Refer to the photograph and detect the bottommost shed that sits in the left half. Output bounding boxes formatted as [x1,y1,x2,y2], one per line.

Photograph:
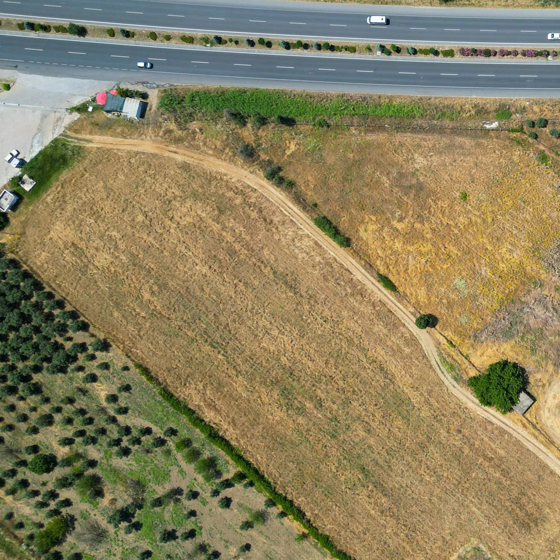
[0,189,21,212]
